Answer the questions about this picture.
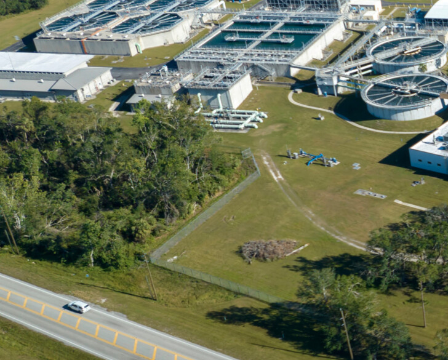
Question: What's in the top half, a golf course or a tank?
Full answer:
It is a tank that can be seen in the top half.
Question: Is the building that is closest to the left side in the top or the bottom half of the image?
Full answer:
You can find the building that is closest to the left side in the top half.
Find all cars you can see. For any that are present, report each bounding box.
[66,300,88,313]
